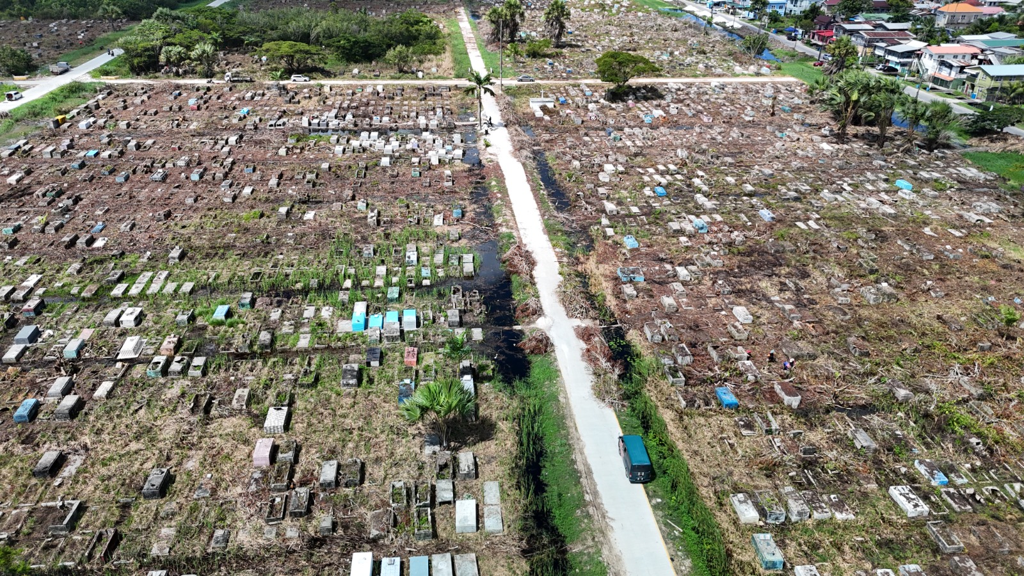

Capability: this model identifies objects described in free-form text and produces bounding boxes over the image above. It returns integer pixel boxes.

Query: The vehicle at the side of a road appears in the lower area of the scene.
[618,436,652,481]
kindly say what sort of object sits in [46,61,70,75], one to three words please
vehicle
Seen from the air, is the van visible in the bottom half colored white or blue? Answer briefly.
blue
